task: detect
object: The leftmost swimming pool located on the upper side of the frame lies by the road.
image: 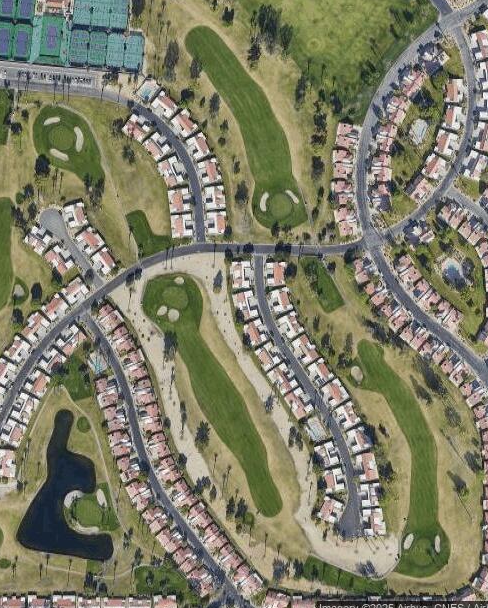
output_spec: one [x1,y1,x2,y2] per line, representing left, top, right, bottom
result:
[137,79,160,102]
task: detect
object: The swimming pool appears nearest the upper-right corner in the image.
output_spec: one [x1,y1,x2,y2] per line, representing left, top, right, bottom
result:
[411,119,427,143]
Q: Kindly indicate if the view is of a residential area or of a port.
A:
residential area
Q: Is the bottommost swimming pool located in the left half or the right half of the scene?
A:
right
